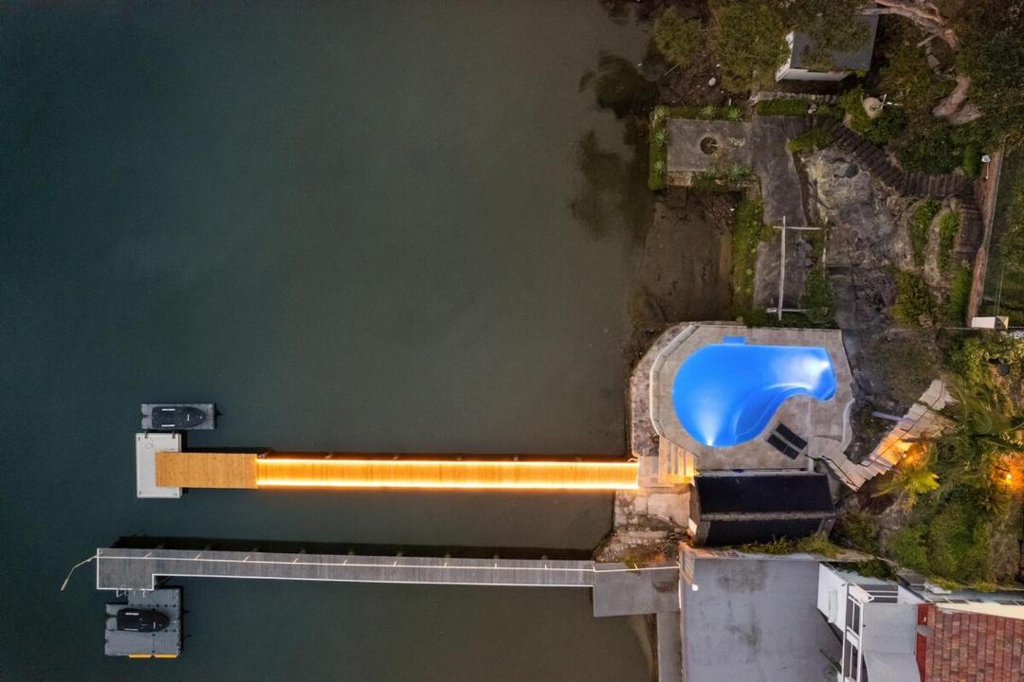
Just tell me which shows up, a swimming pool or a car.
swimming pool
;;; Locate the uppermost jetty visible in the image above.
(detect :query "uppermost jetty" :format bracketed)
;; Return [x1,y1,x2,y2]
[142,403,221,429]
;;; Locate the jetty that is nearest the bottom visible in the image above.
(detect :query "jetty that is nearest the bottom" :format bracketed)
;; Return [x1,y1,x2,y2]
[105,586,190,658]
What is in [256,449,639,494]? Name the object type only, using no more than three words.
pier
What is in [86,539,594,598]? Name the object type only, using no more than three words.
pier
